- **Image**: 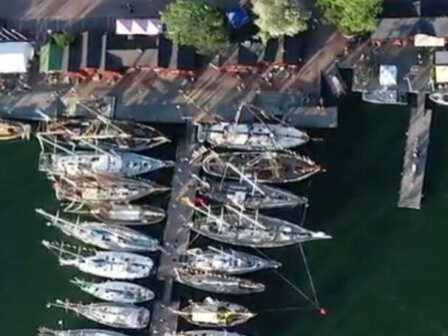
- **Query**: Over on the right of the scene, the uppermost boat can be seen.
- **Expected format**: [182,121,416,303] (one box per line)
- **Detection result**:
[329,69,344,96]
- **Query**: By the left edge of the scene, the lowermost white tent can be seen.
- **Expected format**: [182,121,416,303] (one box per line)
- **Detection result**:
[0,43,39,78]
